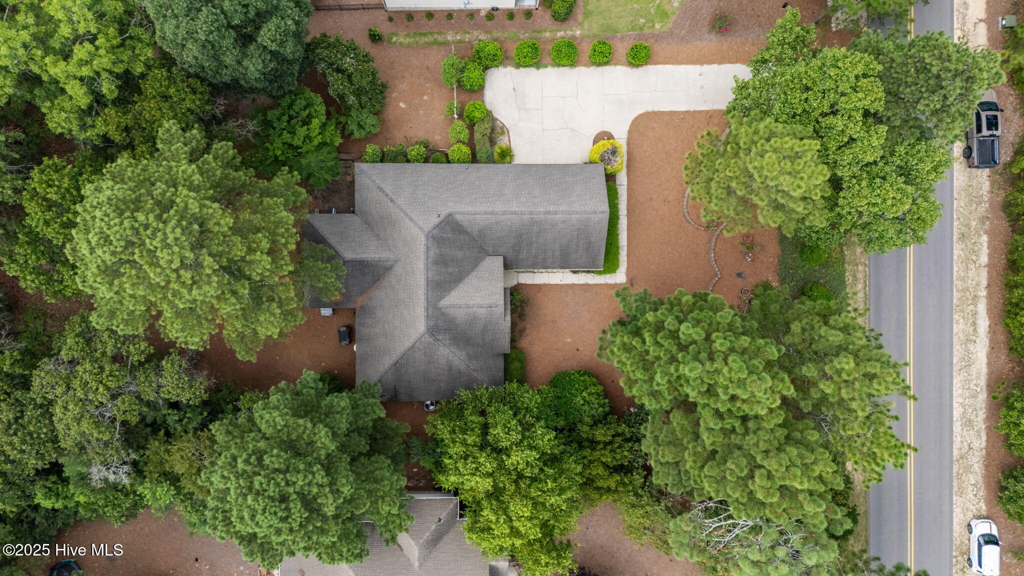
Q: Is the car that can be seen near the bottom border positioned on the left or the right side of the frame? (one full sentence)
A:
The car that can be seen near the bottom border sits on the right side.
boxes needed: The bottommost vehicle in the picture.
[965,518,1001,576]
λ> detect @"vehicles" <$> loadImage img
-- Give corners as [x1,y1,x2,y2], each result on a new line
[965,518,1001,576]
[961,88,1002,171]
